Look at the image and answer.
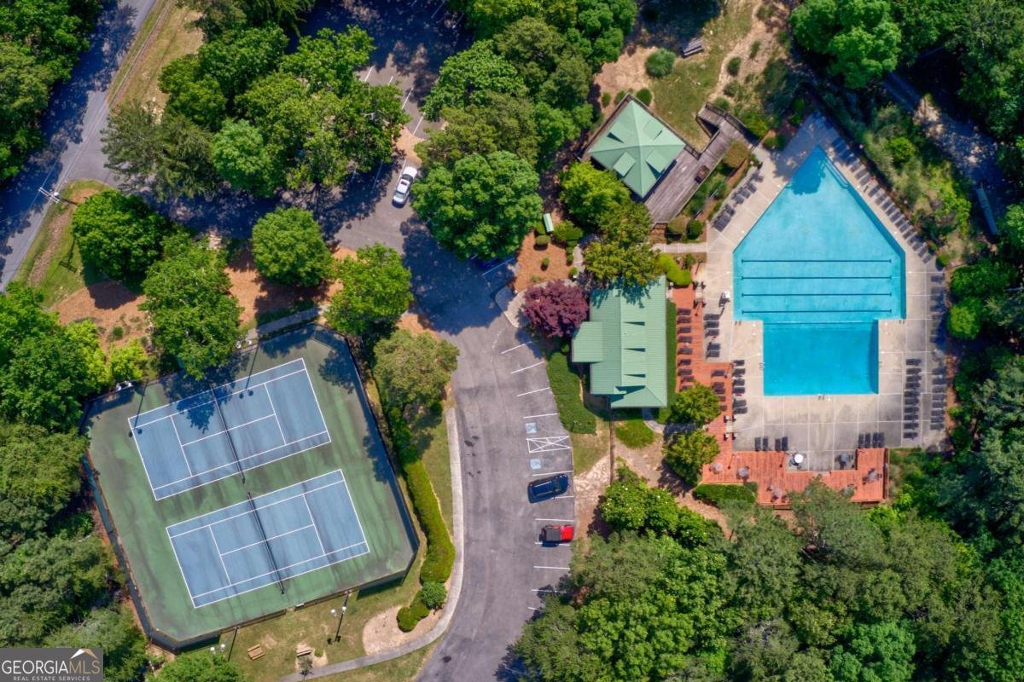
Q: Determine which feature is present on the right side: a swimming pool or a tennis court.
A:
swimming pool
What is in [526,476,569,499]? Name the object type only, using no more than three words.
car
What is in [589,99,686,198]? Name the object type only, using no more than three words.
building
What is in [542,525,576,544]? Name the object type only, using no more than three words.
car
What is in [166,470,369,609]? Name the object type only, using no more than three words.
tennis court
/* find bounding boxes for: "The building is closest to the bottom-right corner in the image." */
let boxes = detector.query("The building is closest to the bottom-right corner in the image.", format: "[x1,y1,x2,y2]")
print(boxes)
[572,274,668,409]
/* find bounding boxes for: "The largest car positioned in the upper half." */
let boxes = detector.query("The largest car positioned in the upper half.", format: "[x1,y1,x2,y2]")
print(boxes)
[391,165,418,203]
